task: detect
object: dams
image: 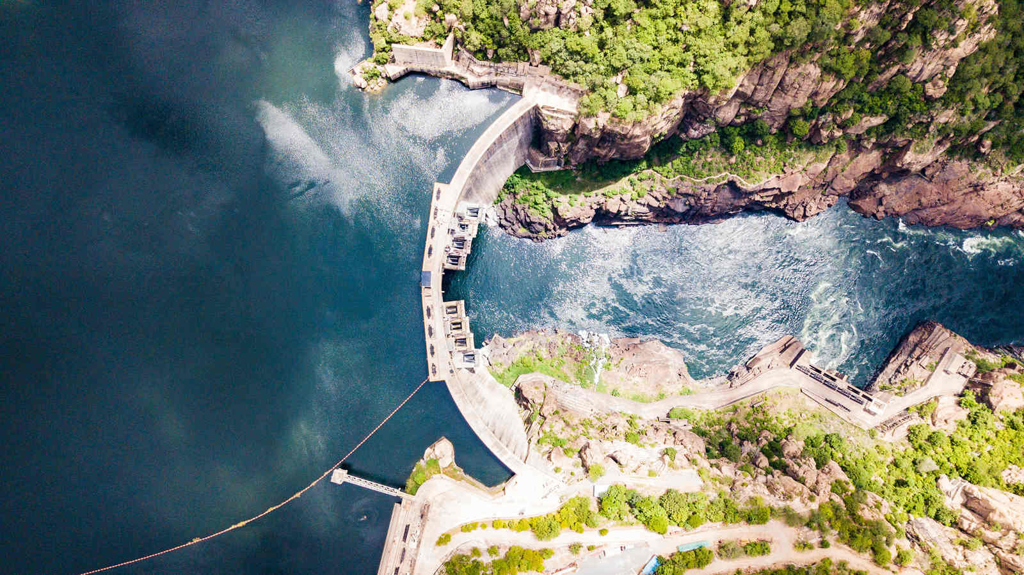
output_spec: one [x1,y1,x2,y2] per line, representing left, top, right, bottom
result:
[422,97,539,475]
